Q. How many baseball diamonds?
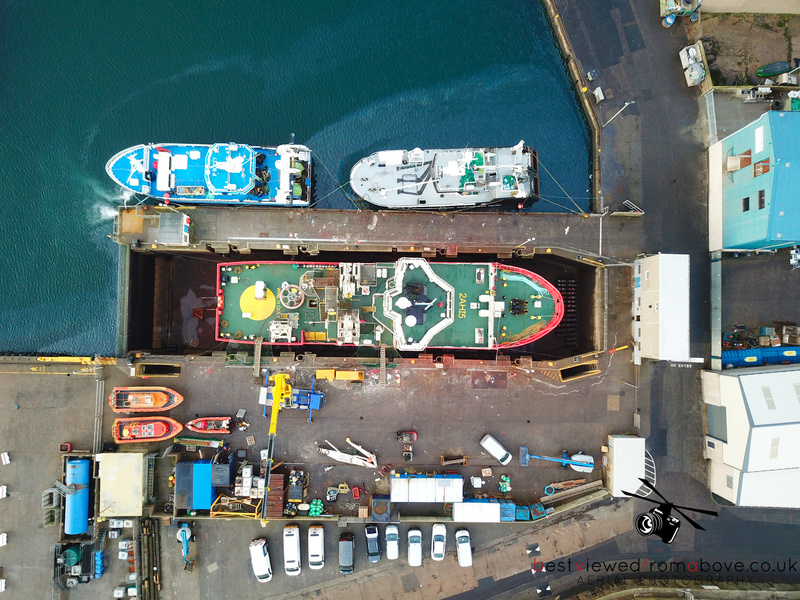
none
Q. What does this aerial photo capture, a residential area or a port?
port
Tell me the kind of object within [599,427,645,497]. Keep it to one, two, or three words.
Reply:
building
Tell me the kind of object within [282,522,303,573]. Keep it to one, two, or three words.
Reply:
vehicle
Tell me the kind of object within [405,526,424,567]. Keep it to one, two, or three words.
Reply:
car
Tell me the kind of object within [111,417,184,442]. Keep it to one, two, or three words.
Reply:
boat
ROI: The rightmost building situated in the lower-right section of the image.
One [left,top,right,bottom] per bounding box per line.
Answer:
[699,368,800,507]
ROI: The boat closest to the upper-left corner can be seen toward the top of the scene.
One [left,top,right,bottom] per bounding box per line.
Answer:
[105,131,315,207]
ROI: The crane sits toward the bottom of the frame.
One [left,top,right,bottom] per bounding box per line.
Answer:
[259,371,327,527]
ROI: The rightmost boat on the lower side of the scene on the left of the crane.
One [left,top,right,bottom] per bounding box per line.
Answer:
[184,417,237,434]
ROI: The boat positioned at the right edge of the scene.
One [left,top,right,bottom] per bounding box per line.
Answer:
[753,62,790,77]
